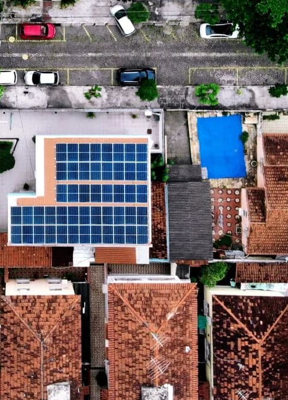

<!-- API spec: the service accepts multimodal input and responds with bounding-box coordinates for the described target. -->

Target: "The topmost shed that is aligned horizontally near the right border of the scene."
[229,256,288,283]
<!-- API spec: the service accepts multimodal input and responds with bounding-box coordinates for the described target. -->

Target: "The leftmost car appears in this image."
[0,70,20,87]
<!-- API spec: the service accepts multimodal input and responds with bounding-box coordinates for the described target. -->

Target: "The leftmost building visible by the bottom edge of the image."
[0,284,81,400]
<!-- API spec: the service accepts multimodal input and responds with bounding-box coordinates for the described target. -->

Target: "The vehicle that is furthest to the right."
[200,22,238,40]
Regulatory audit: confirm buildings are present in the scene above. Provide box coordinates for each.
[234,134,288,255]
[0,284,81,400]
[201,284,288,400]
[165,179,213,261]
[8,132,150,246]
[104,277,199,400]
[229,256,288,283]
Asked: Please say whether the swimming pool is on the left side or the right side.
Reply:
right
